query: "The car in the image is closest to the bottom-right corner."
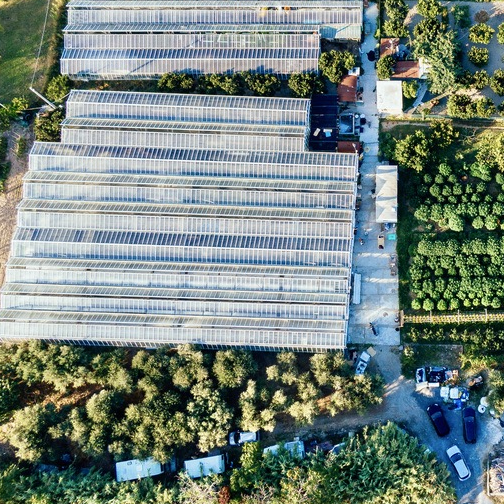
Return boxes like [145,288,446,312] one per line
[443,444,474,483]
